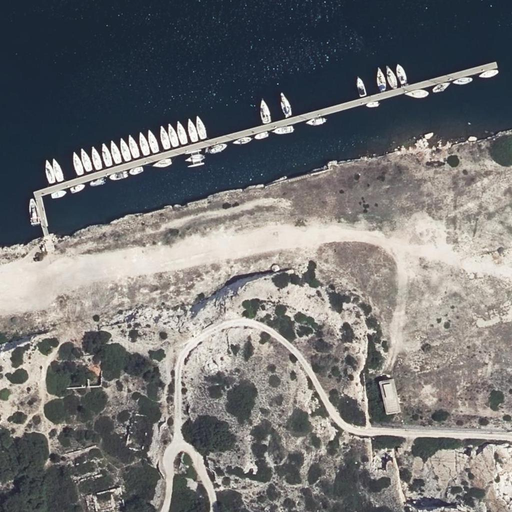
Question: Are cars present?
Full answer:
No, I can see no car in this picture.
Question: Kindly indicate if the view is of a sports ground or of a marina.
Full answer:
This looks like a marina.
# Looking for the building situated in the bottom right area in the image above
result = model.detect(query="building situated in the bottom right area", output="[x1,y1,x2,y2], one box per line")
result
[380,380,402,416]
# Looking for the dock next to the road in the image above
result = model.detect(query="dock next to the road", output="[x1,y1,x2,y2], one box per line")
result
[32,62,498,239]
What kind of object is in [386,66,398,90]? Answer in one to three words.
boat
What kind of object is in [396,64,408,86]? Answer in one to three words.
boat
